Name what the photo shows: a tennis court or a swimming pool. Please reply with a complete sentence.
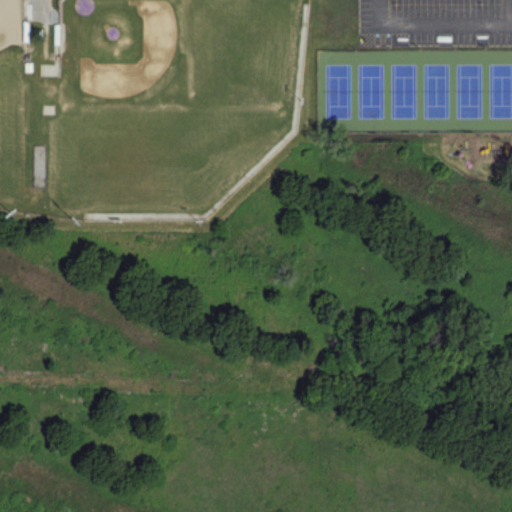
The one in the frame is a tennis court.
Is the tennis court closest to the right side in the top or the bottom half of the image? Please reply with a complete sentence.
The tennis court closest to the right side sits in the top half of the picture.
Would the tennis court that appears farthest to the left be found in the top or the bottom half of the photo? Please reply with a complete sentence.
You can find the tennis court that appears farthest to the left in the top half.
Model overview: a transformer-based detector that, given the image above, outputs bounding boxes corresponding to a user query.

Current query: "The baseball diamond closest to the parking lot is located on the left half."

[60,0,303,214]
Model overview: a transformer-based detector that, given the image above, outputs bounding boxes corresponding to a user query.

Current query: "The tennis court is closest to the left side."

[324,65,354,120]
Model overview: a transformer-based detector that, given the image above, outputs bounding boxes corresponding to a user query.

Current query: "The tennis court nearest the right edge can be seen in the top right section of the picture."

[490,65,512,120]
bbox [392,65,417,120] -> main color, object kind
blue tennis court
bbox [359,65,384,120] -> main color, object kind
blue tennis court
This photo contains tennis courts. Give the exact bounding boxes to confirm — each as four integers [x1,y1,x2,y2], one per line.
[324,65,354,120]
[359,65,384,120]
[490,65,512,120]
[424,65,450,120]
[457,65,482,120]
[392,65,417,120]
